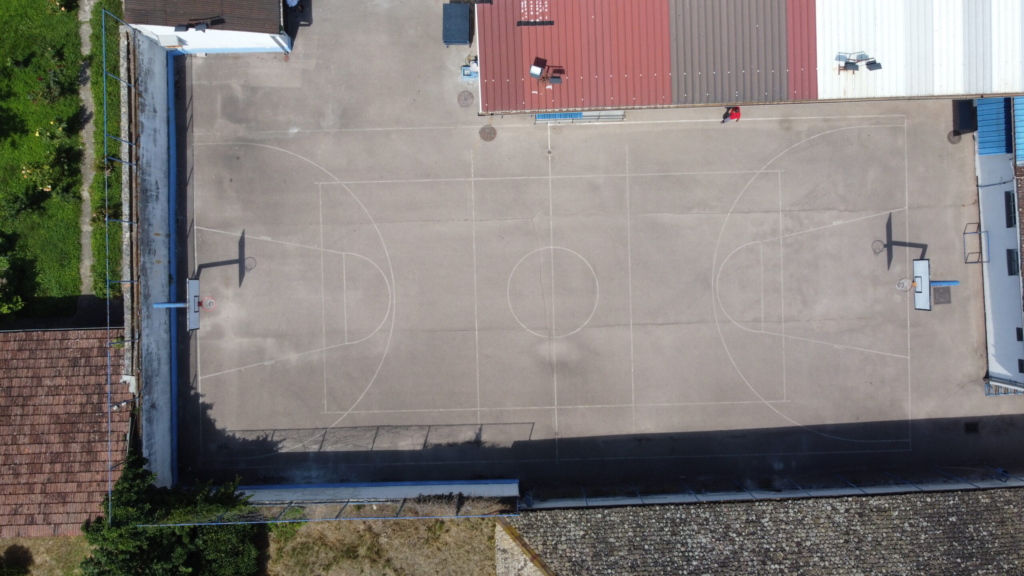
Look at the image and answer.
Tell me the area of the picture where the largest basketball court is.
center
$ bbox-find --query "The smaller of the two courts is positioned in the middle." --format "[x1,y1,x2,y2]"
[315,145,790,432]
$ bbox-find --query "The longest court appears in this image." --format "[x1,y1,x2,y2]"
[192,115,970,470]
